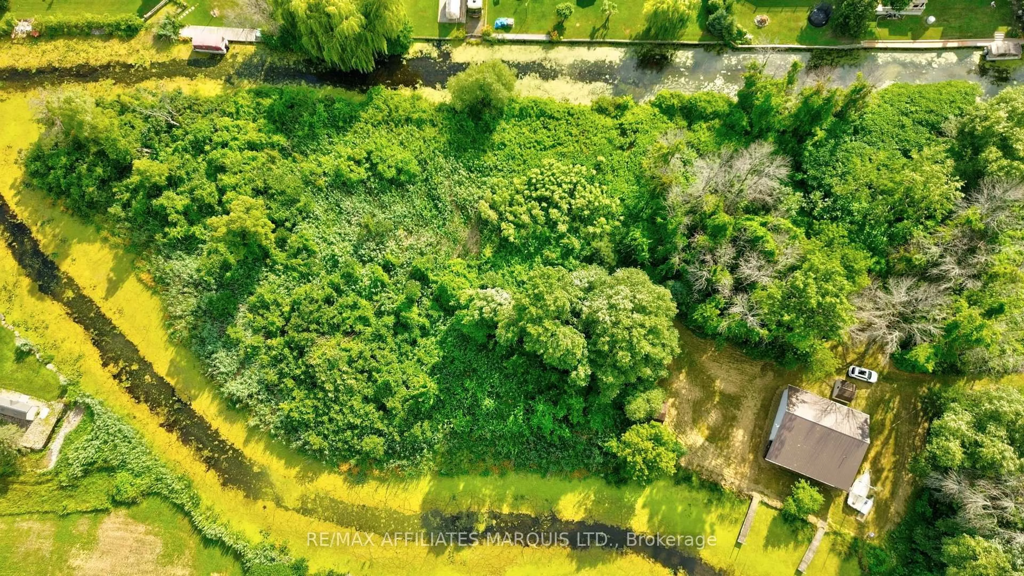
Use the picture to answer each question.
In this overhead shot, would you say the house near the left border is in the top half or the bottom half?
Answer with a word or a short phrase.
bottom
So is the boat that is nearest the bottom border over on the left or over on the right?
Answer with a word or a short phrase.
right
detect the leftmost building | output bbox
[0,385,45,417]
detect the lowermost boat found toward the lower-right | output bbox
[847,470,870,519]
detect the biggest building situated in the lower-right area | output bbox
[765,383,871,493]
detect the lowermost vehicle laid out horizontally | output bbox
[849,366,881,384]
